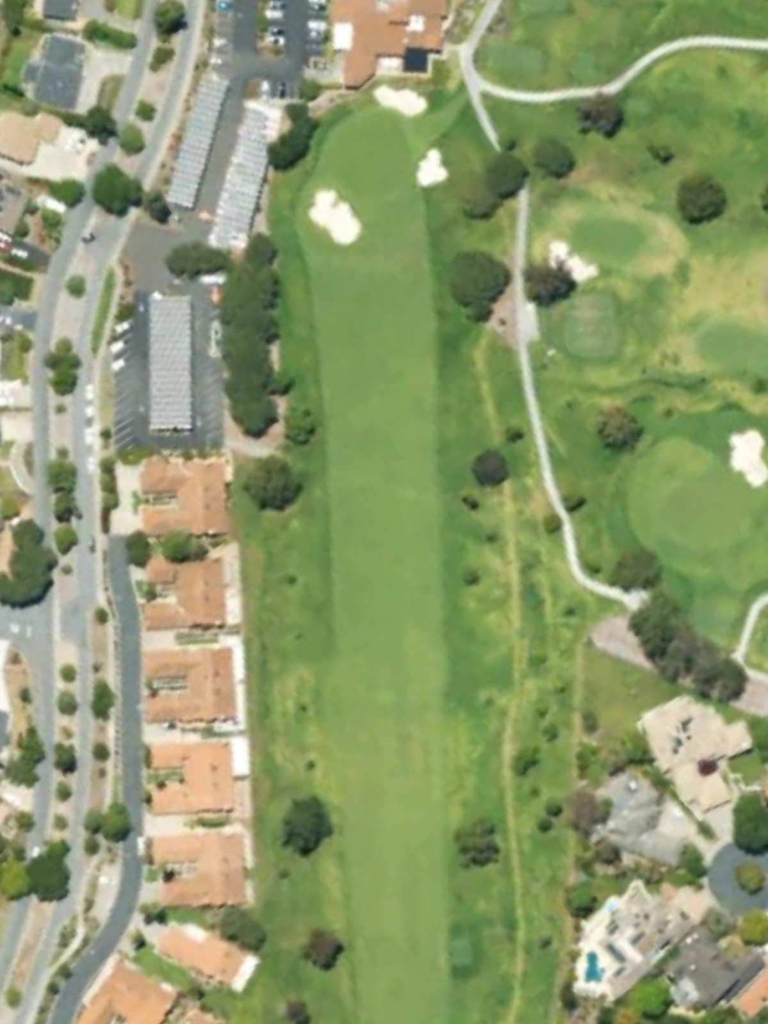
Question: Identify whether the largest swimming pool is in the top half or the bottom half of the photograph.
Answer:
bottom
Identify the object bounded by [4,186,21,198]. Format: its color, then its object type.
gray vehicle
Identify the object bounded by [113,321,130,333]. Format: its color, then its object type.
white vehicle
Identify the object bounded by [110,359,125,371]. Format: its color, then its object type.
white vehicle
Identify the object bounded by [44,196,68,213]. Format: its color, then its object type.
white car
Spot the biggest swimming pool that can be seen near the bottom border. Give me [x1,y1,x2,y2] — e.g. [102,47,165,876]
[584,950,605,982]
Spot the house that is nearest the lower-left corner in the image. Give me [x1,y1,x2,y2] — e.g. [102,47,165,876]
[77,954,177,1024]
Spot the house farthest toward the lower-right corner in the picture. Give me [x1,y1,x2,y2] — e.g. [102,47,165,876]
[735,974,768,1018]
